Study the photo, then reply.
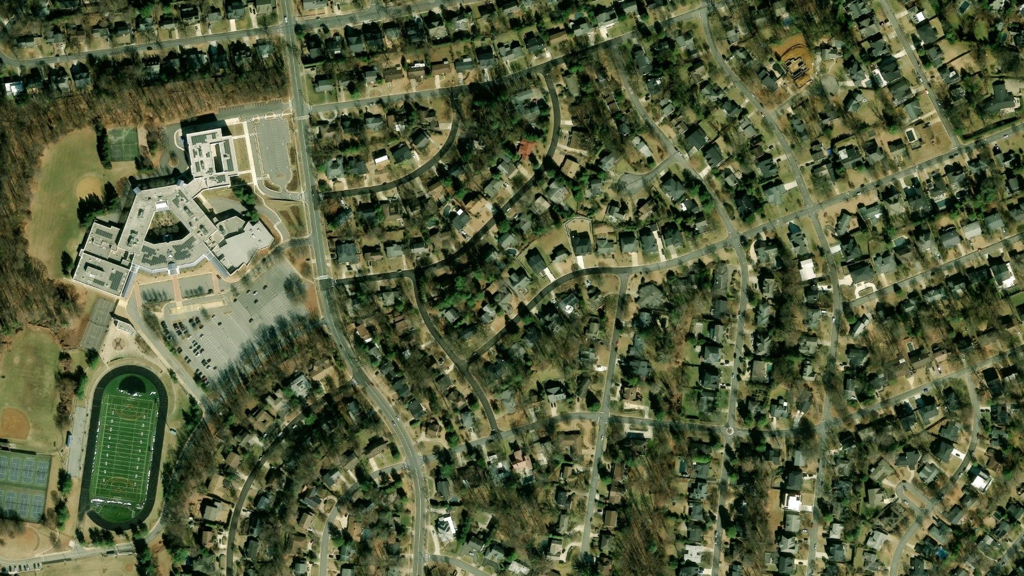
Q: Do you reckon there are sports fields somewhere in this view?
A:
Yes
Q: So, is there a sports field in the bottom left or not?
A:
Yes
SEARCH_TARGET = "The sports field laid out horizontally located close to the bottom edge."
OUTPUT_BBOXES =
[42,553,139,576]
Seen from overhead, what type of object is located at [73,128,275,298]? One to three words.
building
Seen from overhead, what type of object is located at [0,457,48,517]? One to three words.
tennis court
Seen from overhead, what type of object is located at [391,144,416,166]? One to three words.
house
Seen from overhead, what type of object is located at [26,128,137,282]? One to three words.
sports field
